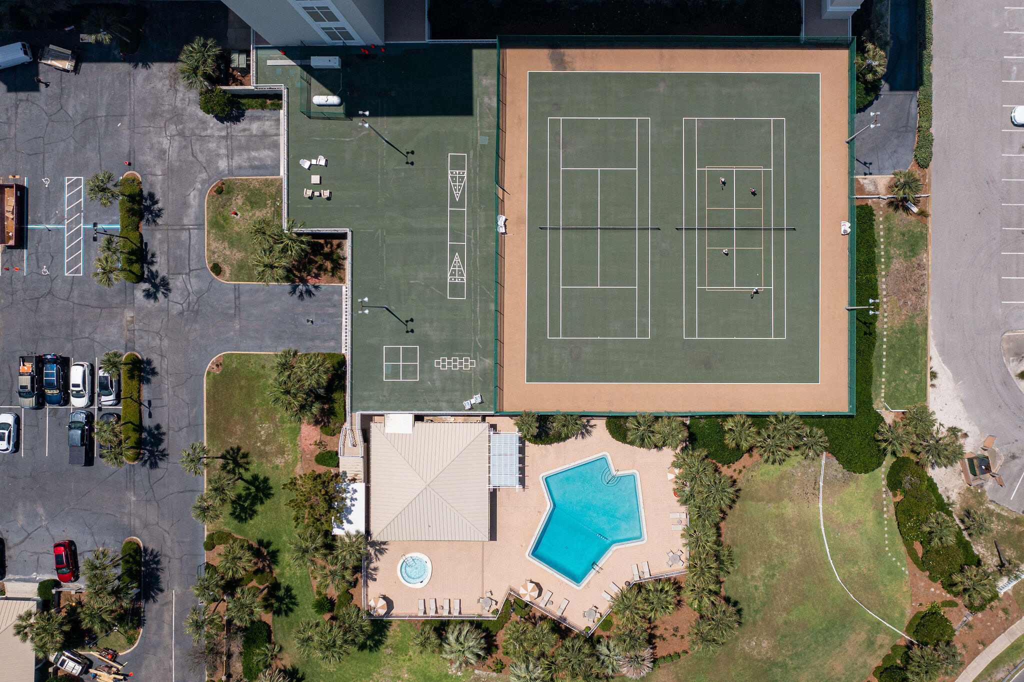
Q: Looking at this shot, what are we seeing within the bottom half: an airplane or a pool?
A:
pool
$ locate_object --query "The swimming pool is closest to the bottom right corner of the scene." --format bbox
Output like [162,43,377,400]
[527,453,647,588]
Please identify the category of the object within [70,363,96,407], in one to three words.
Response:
car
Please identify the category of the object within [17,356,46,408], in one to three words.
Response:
truck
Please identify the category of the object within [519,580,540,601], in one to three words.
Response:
umbrella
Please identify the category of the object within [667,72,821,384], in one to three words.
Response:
tennis court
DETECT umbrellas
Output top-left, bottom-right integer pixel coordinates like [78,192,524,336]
[519,580,540,601]
[368,595,388,616]
[665,464,682,485]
